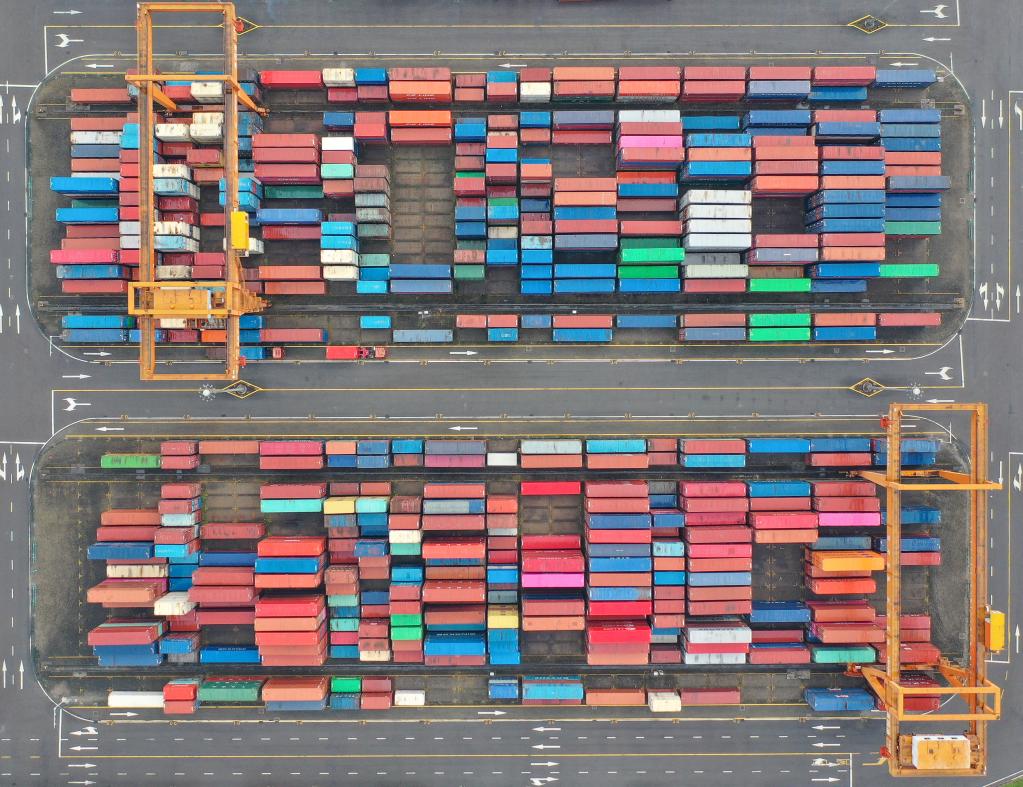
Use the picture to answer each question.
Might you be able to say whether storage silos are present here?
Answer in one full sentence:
No, this view has no storage silo in it.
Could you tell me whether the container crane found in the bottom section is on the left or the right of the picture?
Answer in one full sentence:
The container crane found in the bottom section is on the right side of the image.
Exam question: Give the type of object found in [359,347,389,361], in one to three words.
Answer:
vehicle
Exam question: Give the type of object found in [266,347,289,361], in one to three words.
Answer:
vehicle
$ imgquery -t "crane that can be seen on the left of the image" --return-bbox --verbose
[122,1,279,381]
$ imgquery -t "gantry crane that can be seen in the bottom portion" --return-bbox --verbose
[833,402,1004,777]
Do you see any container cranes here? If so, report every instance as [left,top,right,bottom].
[833,402,1004,777]
[122,1,279,381]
